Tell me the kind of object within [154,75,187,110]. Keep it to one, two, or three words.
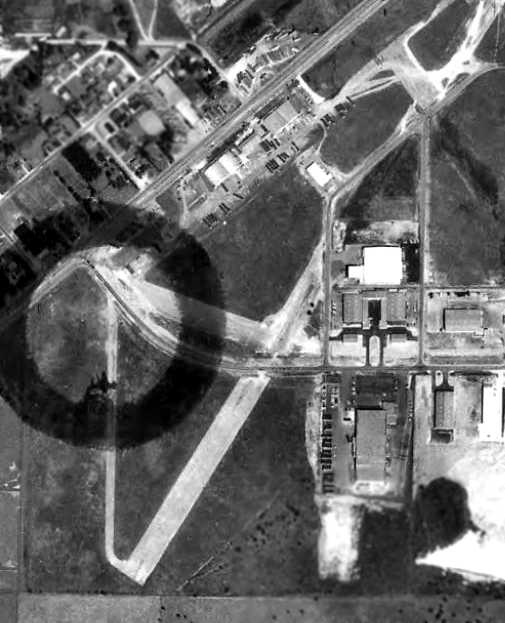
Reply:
building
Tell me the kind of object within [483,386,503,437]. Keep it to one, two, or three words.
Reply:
building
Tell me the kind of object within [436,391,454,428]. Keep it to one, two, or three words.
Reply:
shed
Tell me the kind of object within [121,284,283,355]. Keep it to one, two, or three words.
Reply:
runway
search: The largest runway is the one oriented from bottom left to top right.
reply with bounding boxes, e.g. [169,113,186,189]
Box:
[106,378,270,584]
